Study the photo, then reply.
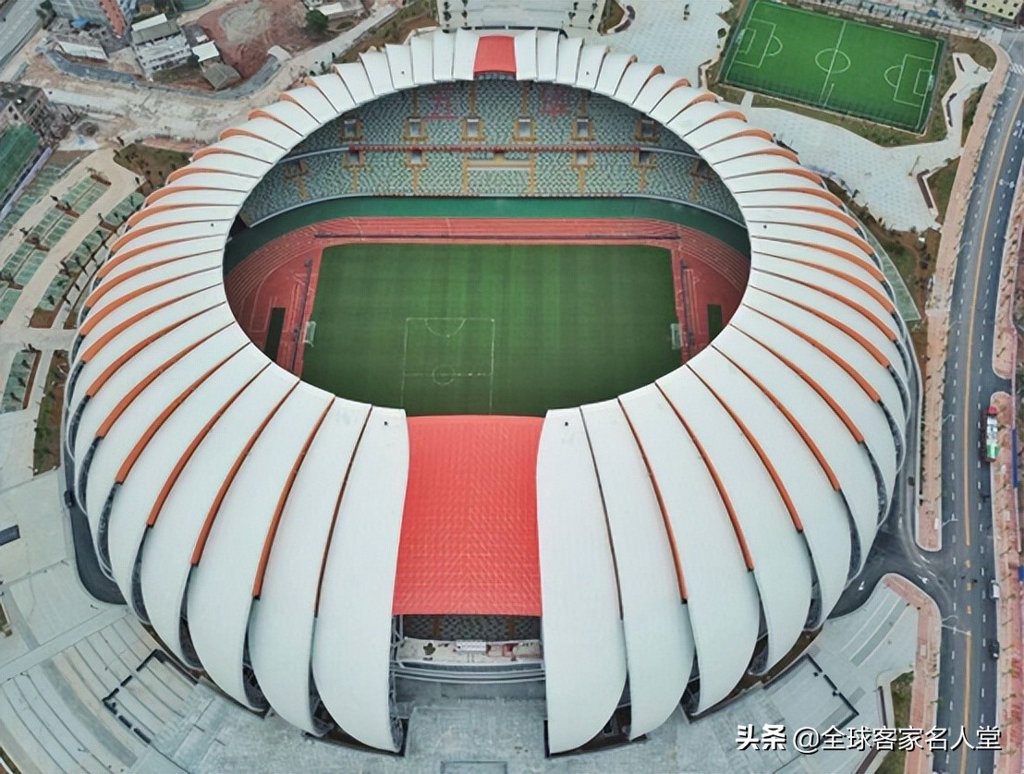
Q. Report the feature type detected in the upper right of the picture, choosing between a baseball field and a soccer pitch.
soccer pitch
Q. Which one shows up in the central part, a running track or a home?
running track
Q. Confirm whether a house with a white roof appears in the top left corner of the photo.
Yes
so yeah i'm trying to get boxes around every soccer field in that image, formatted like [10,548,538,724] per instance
[713,0,947,132]
[298,242,696,450]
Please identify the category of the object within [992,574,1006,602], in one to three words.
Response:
vehicle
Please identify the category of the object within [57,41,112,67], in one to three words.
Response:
shed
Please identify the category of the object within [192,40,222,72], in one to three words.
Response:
house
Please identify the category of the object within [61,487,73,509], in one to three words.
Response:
vehicle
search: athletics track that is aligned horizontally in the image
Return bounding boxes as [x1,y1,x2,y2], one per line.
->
[152,202,838,477]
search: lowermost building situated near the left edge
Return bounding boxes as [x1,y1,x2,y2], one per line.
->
[0,81,52,143]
